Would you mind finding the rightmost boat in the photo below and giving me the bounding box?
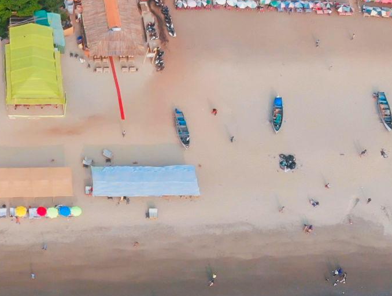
[377,91,392,133]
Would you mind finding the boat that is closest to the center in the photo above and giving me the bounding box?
[175,108,188,150]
